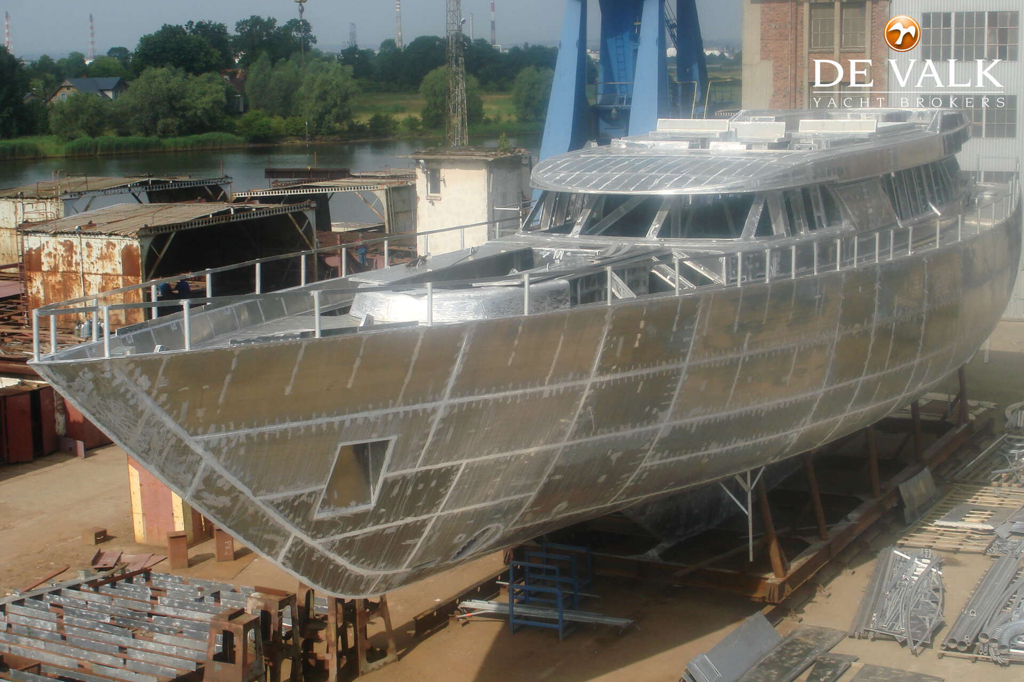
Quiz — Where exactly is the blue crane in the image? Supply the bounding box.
[530,0,707,227]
